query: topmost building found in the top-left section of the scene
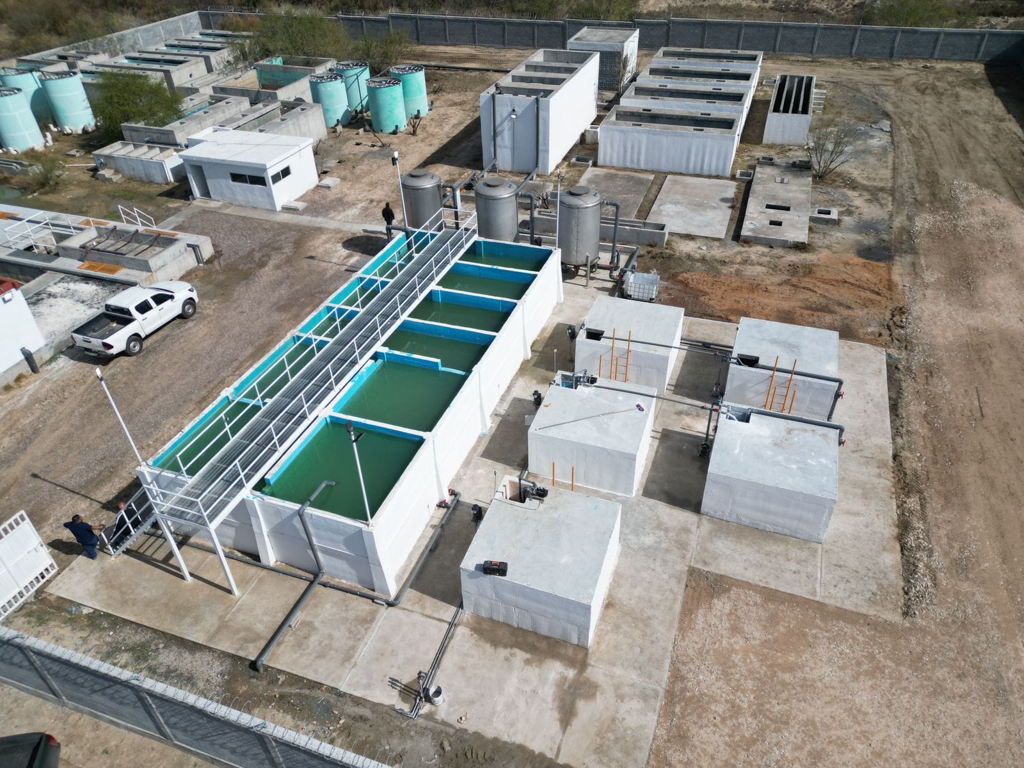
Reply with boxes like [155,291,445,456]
[176,125,319,211]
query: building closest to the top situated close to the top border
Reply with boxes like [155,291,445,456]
[567,26,640,90]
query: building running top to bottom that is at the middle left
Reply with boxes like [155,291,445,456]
[0,276,42,369]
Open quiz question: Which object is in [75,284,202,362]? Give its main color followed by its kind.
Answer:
white truck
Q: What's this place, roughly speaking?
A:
industrial area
